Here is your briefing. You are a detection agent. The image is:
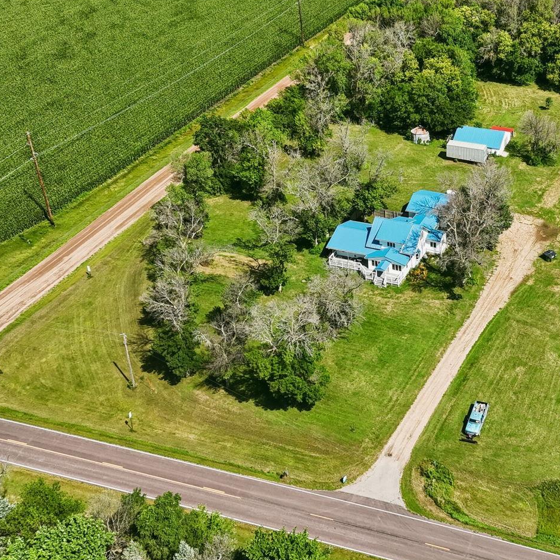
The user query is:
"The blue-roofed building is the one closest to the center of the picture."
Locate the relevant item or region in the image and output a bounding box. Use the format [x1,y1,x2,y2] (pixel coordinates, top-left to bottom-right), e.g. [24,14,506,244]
[326,189,454,290]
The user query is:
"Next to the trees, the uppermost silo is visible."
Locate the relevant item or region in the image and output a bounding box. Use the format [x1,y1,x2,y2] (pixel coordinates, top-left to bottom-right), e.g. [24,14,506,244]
[412,125,433,147]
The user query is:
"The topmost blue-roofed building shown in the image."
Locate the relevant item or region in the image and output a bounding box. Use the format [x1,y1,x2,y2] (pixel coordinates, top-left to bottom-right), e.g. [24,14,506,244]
[454,125,510,157]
